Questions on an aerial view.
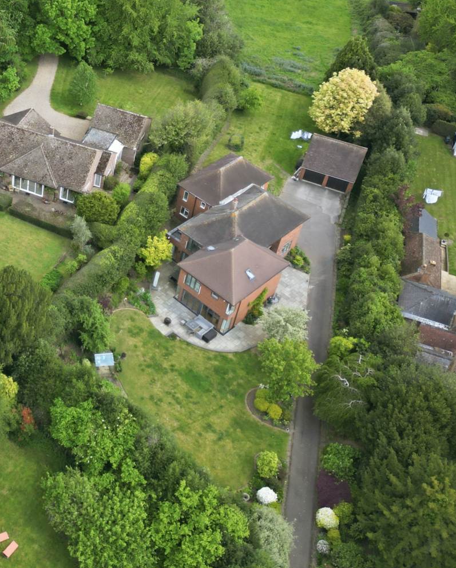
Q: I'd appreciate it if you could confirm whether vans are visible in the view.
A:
No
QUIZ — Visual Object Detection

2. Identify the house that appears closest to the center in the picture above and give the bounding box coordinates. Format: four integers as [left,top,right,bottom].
[167,154,315,333]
